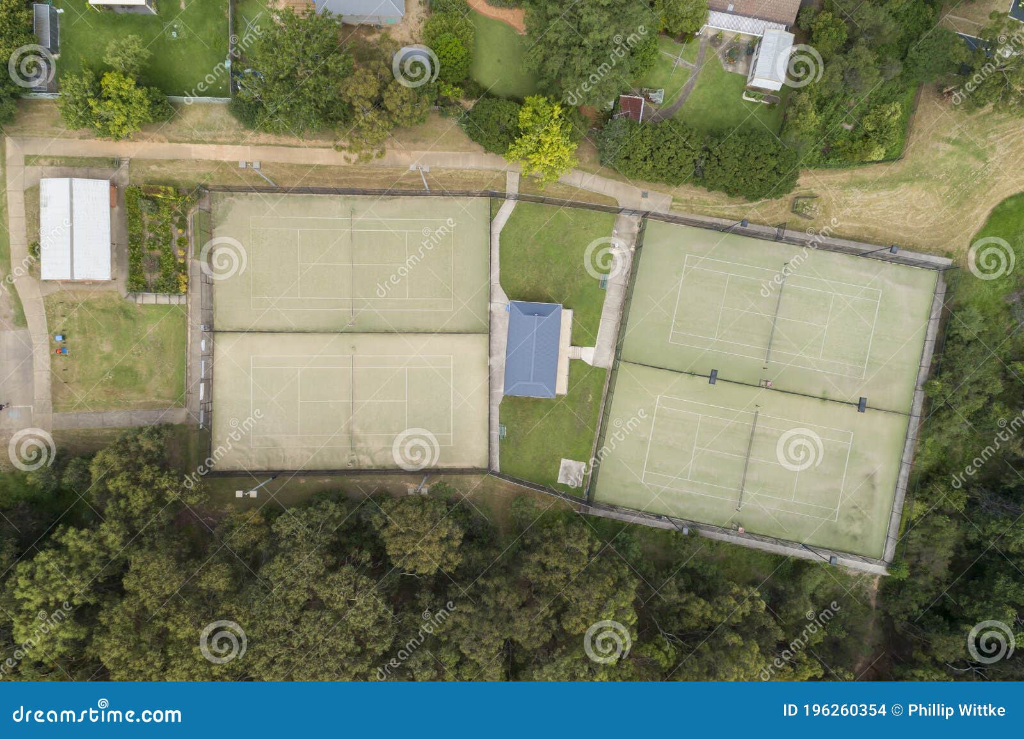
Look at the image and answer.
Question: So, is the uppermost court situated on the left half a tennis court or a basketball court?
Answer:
tennis court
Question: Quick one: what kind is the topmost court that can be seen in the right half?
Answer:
tennis court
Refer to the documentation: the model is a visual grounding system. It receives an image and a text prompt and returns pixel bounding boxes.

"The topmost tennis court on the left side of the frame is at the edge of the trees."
[212,194,490,333]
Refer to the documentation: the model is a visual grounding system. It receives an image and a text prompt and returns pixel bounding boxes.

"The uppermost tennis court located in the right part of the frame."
[615,218,939,414]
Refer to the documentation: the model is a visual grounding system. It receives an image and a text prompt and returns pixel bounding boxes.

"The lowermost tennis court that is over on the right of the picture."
[590,360,911,559]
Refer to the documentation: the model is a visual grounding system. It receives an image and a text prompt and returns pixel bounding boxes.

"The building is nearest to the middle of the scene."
[503,300,584,399]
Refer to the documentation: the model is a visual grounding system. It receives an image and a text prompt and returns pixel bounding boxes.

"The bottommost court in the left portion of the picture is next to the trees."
[211,331,490,472]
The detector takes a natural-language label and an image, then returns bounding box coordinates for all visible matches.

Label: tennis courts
[590,360,911,559]
[615,218,939,414]
[212,194,490,333]
[211,331,490,472]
